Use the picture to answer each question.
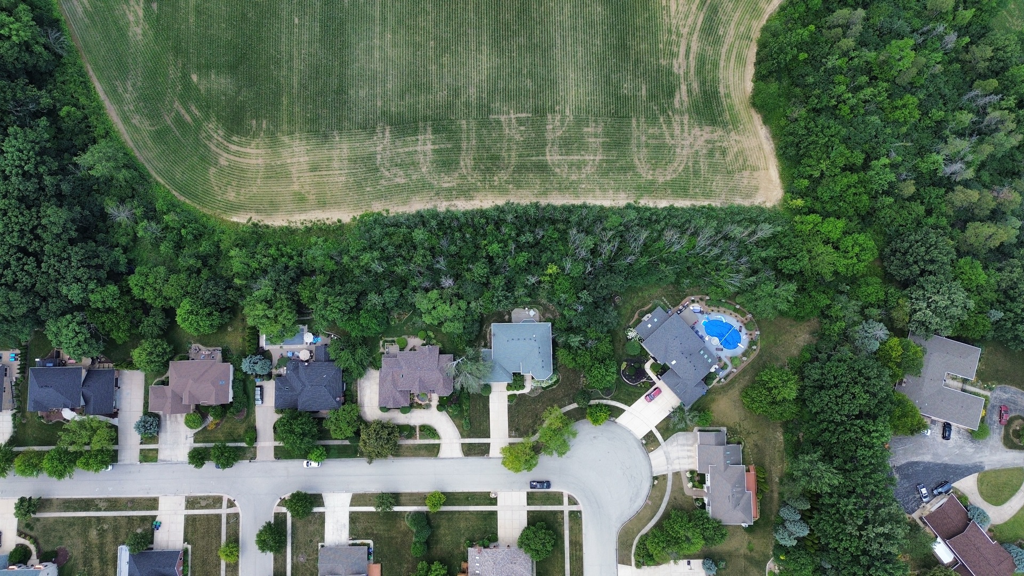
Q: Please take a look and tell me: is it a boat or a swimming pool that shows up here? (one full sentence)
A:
Visible in the photo is a swimming pool.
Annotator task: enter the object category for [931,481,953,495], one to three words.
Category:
car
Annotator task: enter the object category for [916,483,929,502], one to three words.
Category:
vehicle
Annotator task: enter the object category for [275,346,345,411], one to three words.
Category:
house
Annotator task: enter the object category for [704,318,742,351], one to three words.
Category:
swimming pool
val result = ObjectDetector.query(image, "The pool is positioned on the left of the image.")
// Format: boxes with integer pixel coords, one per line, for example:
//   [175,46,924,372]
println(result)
[265,326,305,346]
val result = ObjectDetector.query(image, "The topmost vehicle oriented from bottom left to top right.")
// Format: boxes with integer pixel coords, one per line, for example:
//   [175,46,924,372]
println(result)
[644,386,662,402]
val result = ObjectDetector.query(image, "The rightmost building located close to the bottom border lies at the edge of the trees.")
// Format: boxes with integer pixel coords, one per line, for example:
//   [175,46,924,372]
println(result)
[914,491,1022,576]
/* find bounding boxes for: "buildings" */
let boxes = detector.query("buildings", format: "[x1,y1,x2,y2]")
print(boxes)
[27,357,124,414]
[0,364,16,412]
[378,345,454,409]
[149,351,237,415]
[0,549,69,576]
[891,331,986,429]
[275,346,345,411]
[914,491,1022,576]
[318,541,370,576]
[694,430,753,527]
[122,545,190,576]
[633,306,719,406]
[482,319,553,383]
[467,543,532,576]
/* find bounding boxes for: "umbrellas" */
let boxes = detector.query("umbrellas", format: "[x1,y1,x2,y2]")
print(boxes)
[299,349,310,360]
[304,333,313,342]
